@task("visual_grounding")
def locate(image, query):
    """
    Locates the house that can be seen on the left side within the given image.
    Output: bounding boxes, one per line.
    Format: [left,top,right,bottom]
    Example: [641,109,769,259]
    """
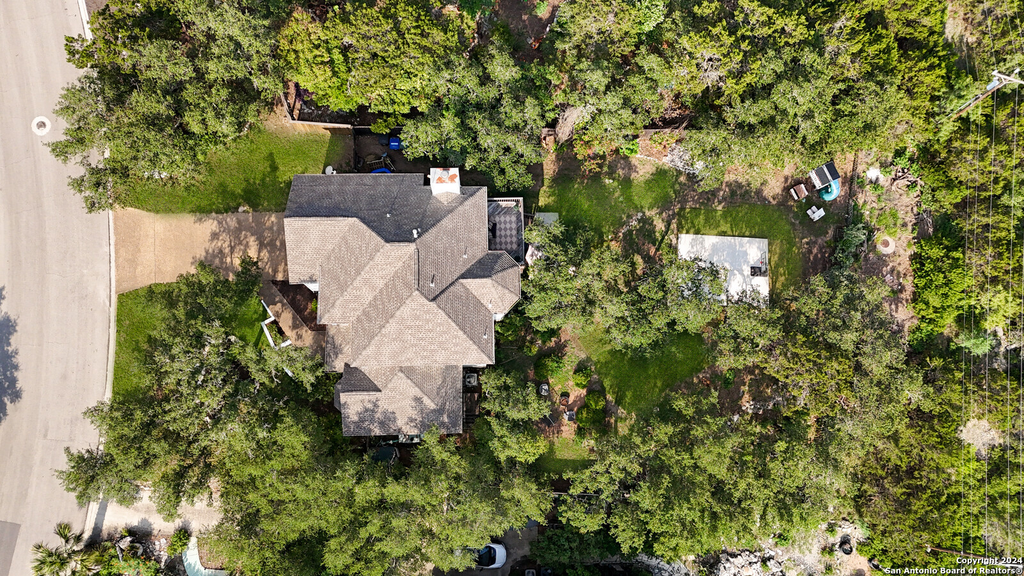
[285,168,522,436]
